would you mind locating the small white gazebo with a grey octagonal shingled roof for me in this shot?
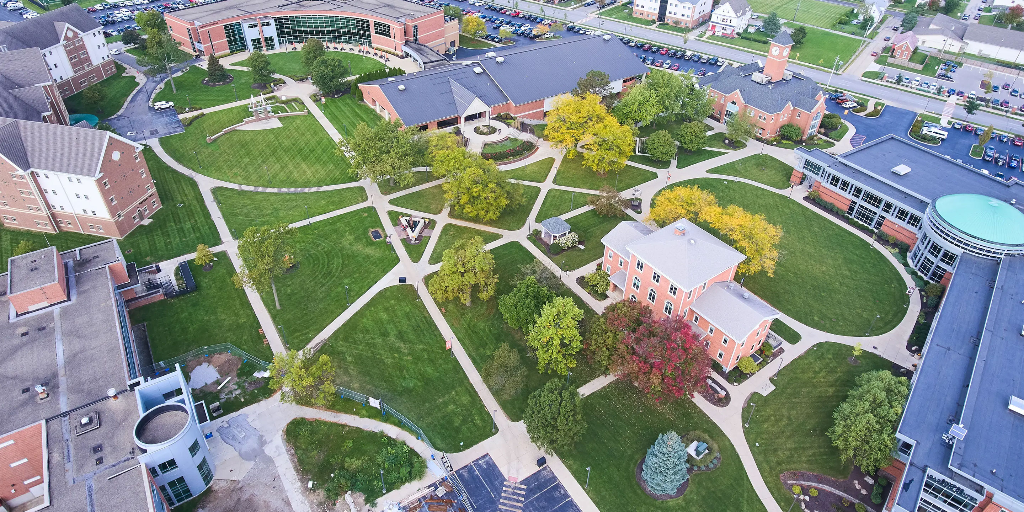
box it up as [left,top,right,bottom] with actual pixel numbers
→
[541,214,572,241]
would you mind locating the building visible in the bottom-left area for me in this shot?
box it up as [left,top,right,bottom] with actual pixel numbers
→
[0,238,227,512]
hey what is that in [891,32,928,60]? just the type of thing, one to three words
house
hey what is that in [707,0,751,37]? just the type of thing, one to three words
house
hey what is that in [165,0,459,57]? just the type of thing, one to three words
building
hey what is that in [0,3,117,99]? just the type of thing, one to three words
building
